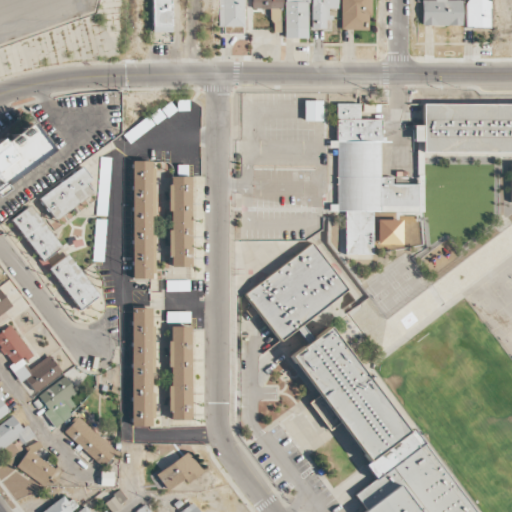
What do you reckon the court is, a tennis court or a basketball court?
basketball court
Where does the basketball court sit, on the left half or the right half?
right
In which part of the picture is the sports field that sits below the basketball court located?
bottom right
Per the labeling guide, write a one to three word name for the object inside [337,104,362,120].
building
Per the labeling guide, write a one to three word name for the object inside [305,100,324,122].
shed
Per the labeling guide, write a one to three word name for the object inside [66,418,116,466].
house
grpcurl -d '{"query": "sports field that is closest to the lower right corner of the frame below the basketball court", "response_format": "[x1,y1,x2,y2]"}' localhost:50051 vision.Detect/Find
[380,298,512,512]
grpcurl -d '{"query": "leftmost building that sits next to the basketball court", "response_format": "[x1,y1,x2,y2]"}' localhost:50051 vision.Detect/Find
[246,245,348,340]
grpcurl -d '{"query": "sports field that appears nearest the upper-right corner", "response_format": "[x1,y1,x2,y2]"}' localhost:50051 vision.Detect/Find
[426,165,494,256]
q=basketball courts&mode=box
[362,254,431,318]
